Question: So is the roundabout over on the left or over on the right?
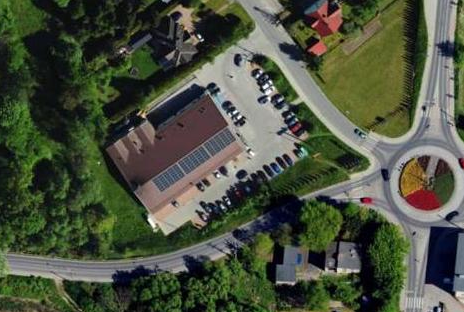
right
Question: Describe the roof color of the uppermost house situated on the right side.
red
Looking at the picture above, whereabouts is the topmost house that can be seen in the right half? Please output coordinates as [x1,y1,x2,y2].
[306,0,348,40]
